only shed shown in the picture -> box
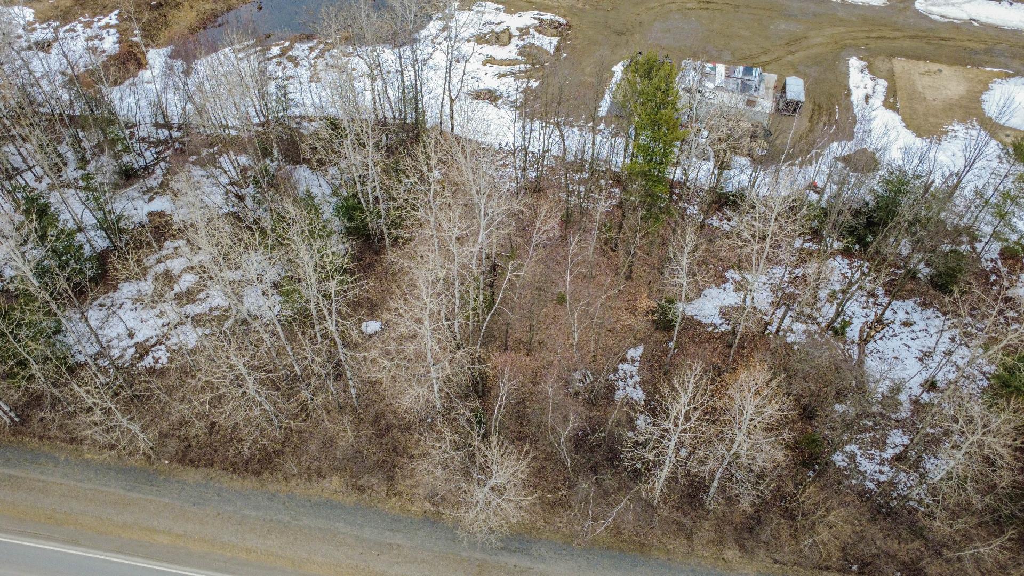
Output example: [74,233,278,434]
[780,77,808,117]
